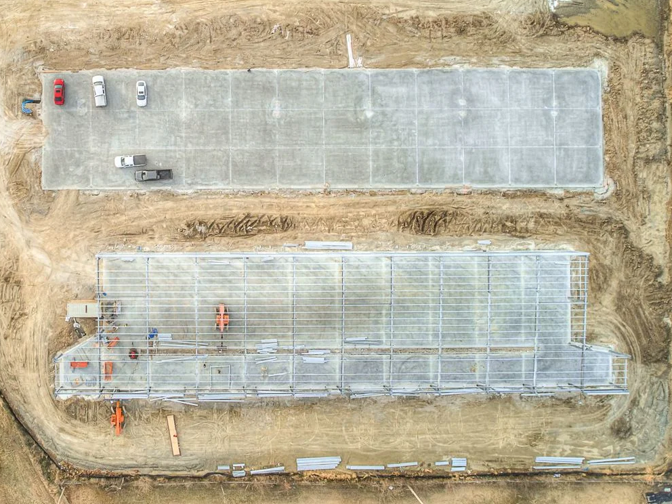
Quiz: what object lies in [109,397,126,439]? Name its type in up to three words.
work vehicle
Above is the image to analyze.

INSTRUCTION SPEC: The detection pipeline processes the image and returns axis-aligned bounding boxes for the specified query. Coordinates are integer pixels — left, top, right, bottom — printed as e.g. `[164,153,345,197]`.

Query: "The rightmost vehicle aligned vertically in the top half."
[134,79,148,107]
